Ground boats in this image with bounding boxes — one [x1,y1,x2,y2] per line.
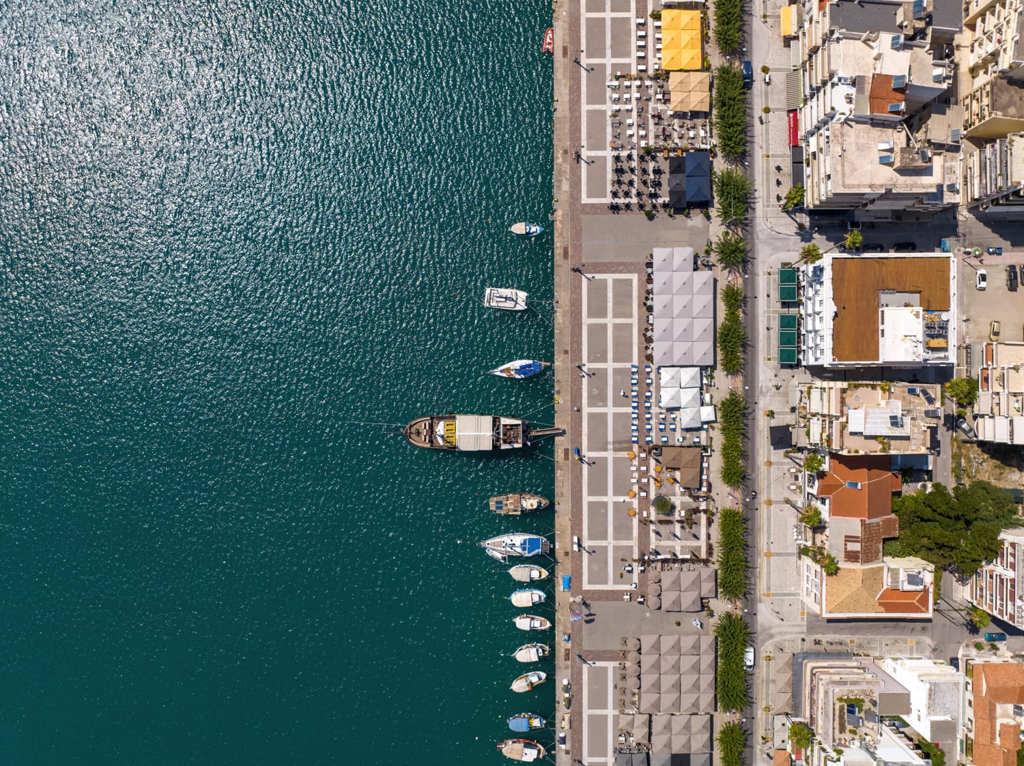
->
[511,673,546,696]
[509,220,545,237]
[508,564,550,585]
[513,615,552,634]
[542,26,554,54]
[499,740,546,766]
[491,495,549,519]
[484,287,527,309]
[507,714,546,736]
[487,551,506,567]
[513,644,550,667]
[482,536,553,563]
[489,359,553,378]
[508,589,548,611]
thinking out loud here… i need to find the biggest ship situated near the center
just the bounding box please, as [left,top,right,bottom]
[392,412,560,451]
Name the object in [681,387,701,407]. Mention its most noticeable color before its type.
white umbrella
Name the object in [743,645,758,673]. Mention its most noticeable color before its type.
white vehicle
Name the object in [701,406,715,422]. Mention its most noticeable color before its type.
white umbrella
